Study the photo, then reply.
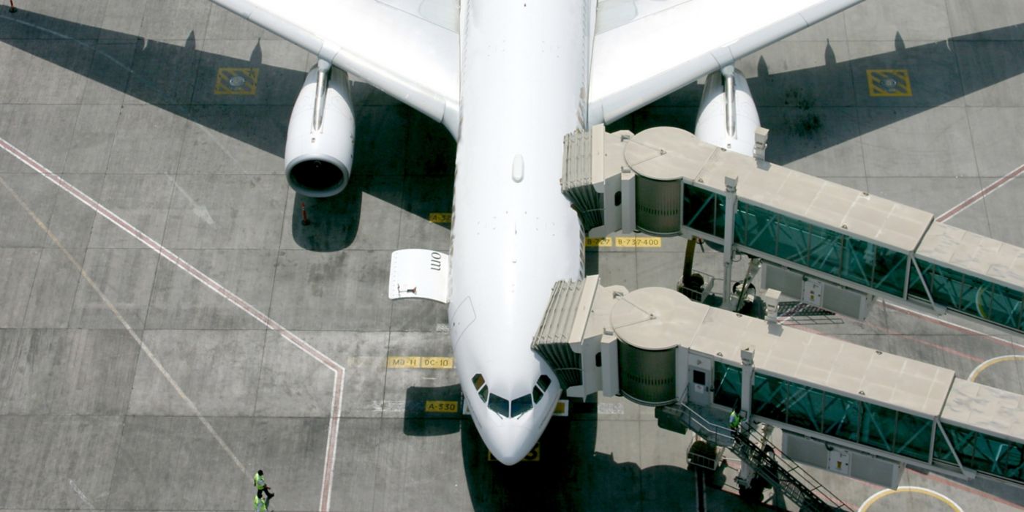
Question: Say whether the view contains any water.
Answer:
No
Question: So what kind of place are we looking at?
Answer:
airport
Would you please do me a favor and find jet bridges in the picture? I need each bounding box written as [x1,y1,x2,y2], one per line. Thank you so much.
[531,271,1024,512]
[557,120,1024,349]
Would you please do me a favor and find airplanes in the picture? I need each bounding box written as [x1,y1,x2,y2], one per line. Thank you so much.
[207,0,866,466]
